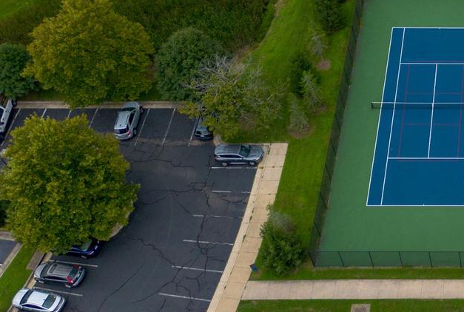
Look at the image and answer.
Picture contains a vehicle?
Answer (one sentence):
Yes, the image includes a vehicle.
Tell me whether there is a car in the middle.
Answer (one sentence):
Yes, a car shows up in the middle.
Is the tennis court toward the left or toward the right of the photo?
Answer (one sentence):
The tennis court appears in the right half of the scene.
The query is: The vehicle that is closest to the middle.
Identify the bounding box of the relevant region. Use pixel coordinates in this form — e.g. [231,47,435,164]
[212,144,264,167]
